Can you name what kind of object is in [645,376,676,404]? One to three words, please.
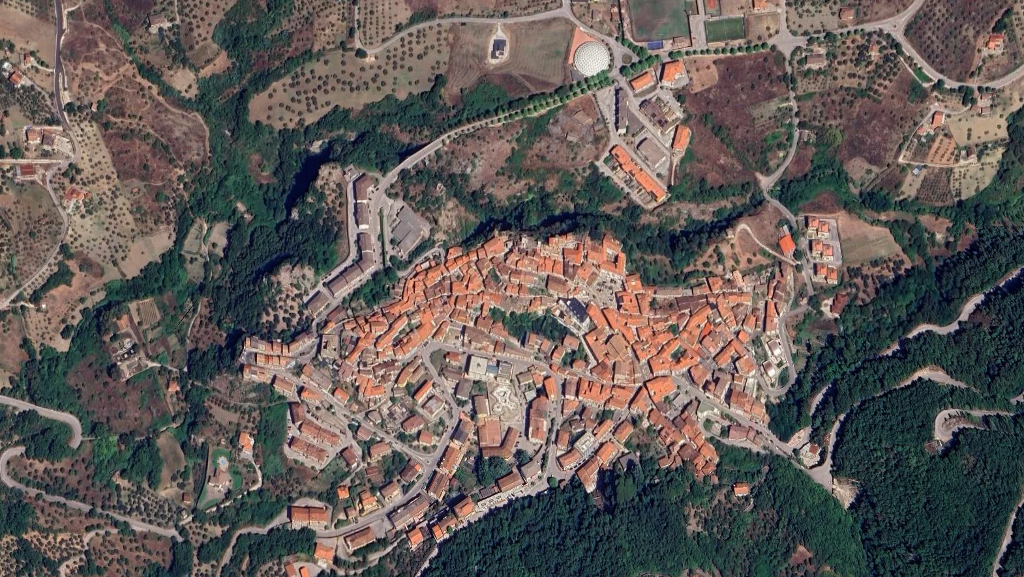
building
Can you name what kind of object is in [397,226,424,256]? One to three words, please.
building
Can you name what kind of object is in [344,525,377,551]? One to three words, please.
house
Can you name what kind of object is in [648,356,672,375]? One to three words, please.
house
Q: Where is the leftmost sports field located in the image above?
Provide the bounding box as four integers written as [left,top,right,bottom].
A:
[631,0,689,40]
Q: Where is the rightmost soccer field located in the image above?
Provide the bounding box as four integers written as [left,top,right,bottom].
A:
[706,17,745,43]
